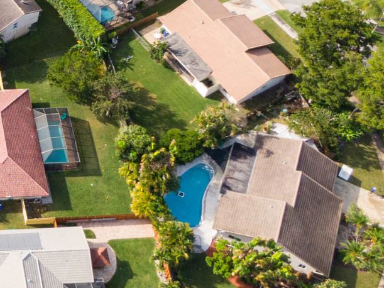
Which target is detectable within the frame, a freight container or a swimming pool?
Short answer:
swimming pool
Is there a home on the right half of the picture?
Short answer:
Yes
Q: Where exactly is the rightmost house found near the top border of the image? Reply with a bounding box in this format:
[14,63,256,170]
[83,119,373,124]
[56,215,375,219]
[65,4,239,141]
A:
[159,0,290,107]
